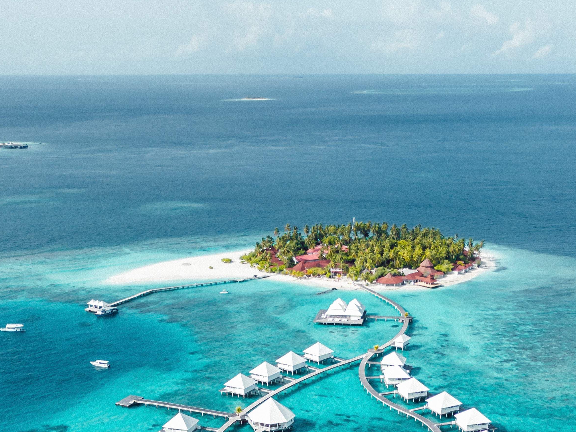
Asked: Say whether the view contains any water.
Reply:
Yes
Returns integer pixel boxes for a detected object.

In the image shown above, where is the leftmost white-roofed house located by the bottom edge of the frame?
[155,412,204,432]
